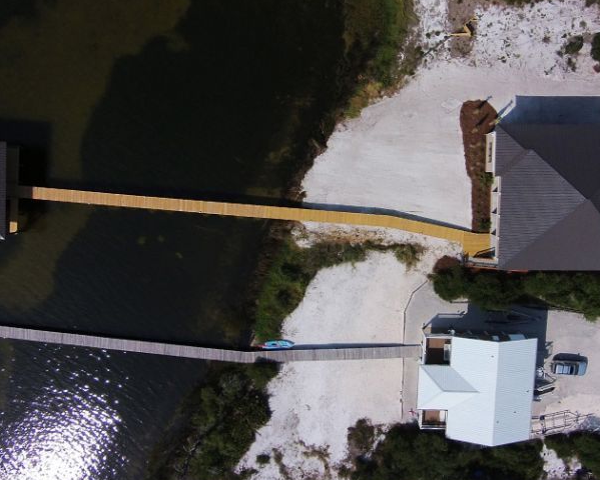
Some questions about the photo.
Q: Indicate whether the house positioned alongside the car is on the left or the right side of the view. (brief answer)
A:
right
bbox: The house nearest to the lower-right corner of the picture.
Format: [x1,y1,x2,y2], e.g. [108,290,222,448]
[416,331,537,447]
